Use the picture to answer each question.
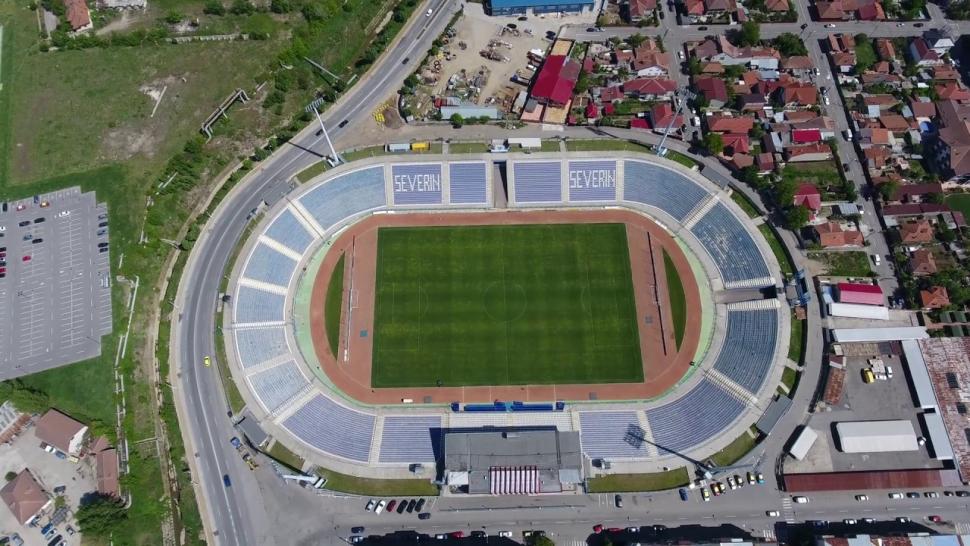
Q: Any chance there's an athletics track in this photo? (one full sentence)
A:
Yes, the picture does show an athletics track.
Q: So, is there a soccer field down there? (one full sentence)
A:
Yes, I can see a soccer field in this picture.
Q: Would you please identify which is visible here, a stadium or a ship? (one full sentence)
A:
There is a stadium in the scene.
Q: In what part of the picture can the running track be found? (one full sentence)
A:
The running track is in the center part of the image.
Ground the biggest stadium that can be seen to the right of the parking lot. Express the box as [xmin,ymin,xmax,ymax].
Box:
[224,150,791,492]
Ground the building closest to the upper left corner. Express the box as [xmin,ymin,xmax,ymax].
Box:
[66,0,97,38]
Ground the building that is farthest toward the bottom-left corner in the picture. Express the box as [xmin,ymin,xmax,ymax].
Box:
[0,467,57,525]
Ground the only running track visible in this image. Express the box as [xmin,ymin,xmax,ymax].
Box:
[311,207,702,406]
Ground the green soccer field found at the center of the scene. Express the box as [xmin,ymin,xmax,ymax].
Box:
[371,223,643,388]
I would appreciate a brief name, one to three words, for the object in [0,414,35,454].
shed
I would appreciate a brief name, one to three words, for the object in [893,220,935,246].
house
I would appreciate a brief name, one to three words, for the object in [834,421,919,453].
building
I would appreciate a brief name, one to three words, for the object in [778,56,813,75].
house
